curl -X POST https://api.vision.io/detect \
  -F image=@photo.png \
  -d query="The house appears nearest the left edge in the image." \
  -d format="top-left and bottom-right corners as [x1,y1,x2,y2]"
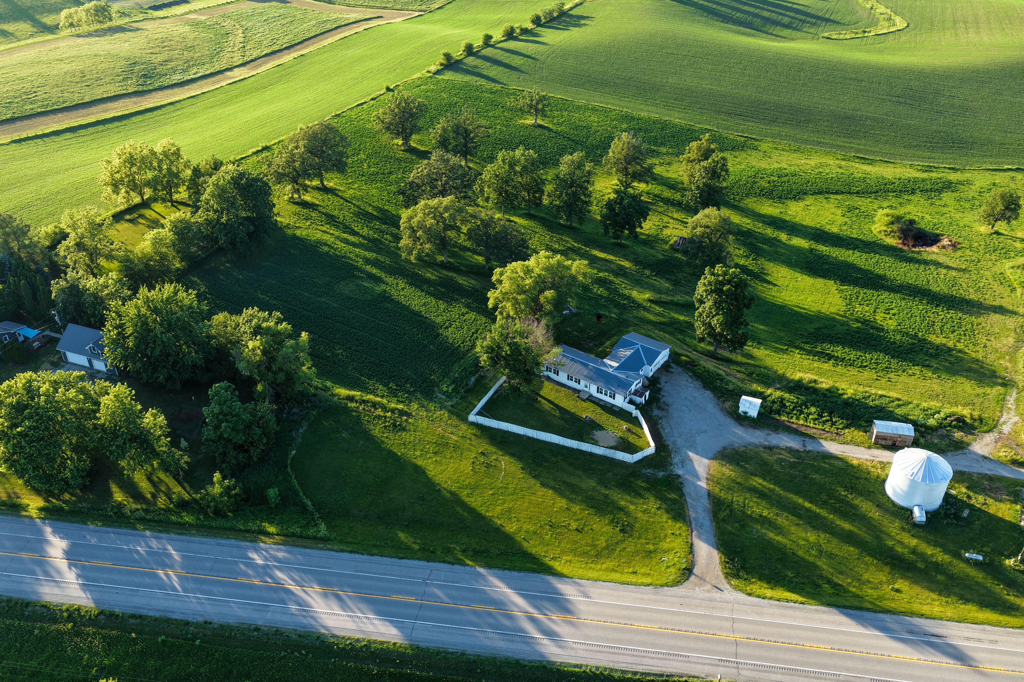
[0,309,44,342]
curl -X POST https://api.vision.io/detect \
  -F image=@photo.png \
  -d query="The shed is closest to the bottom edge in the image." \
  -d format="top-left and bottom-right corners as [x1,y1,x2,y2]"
[865,424,914,448]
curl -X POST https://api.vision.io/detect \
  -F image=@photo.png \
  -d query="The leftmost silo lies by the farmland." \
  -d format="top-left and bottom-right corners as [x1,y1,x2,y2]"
[884,448,954,527]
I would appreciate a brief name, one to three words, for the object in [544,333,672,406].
house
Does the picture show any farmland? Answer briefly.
Yes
